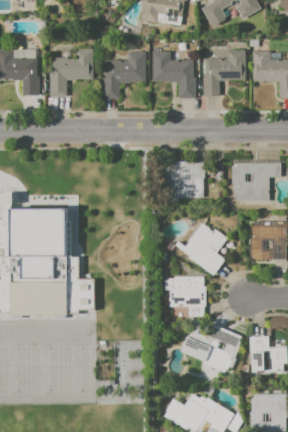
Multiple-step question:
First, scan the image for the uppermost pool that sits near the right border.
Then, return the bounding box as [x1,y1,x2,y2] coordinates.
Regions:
[276,180,288,203]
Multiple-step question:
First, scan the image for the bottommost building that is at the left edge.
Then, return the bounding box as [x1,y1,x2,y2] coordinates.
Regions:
[0,192,95,318]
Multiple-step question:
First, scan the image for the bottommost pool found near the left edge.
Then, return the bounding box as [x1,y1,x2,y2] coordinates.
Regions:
[14,22,40,34]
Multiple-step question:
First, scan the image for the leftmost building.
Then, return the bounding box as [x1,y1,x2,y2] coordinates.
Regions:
[0,49,40,95]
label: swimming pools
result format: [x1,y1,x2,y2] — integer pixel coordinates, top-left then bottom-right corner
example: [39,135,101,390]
[124,2,142,26]
[170,348,184,374]
[14,22,40,34]
[166,220,188,238]
[276,180,288,203]
[216,390,238,407]
[0,0,12,10]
